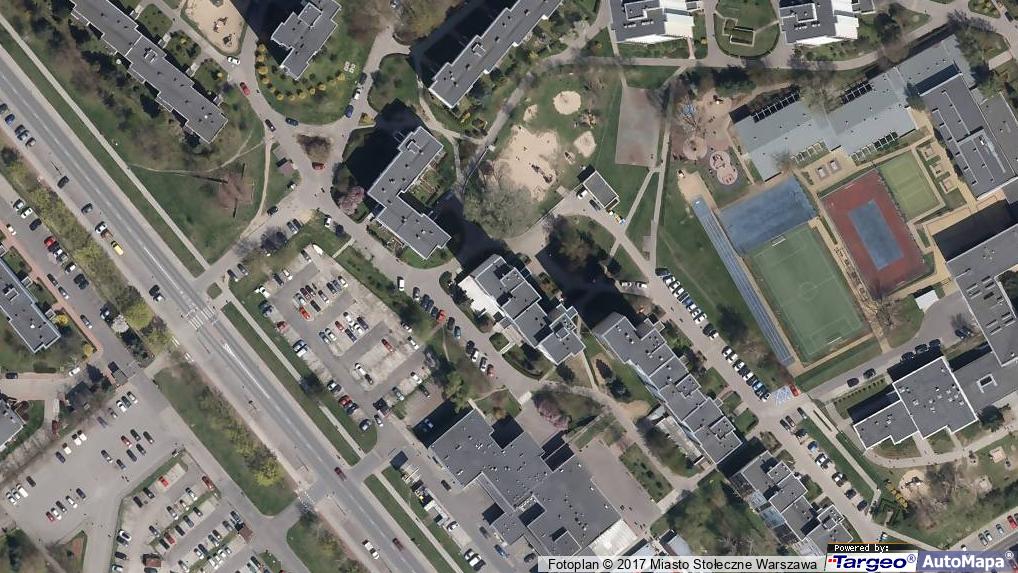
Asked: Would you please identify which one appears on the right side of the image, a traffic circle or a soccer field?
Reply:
soccer field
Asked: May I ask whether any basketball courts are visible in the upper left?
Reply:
No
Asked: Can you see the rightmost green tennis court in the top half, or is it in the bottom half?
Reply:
top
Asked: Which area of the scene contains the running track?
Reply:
right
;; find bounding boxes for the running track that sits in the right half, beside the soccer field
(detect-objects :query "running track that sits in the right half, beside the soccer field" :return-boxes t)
[692,197,795,366]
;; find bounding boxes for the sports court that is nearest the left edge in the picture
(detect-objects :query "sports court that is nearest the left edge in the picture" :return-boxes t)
[720,177,817,256]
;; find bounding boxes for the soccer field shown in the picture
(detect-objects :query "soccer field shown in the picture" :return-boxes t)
[748,224,868,364]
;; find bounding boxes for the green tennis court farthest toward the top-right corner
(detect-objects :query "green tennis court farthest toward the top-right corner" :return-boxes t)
[880,149,938,220]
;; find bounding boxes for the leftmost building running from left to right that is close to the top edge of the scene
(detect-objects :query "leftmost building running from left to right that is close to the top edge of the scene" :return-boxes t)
[608,0,705,46]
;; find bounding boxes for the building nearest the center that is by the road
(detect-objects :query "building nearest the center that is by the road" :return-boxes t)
[458,253,585,370]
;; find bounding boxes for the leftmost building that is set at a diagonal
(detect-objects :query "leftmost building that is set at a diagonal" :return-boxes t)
[0,249,64,354]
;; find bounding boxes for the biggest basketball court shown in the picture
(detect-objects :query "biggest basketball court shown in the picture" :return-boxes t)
[820,169,926,291]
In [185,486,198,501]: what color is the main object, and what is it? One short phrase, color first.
gray vehicle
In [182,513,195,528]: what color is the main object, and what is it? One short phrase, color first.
gray vehicle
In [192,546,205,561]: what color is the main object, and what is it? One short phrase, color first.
white vehicle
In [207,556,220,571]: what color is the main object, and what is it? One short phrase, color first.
white vehicle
